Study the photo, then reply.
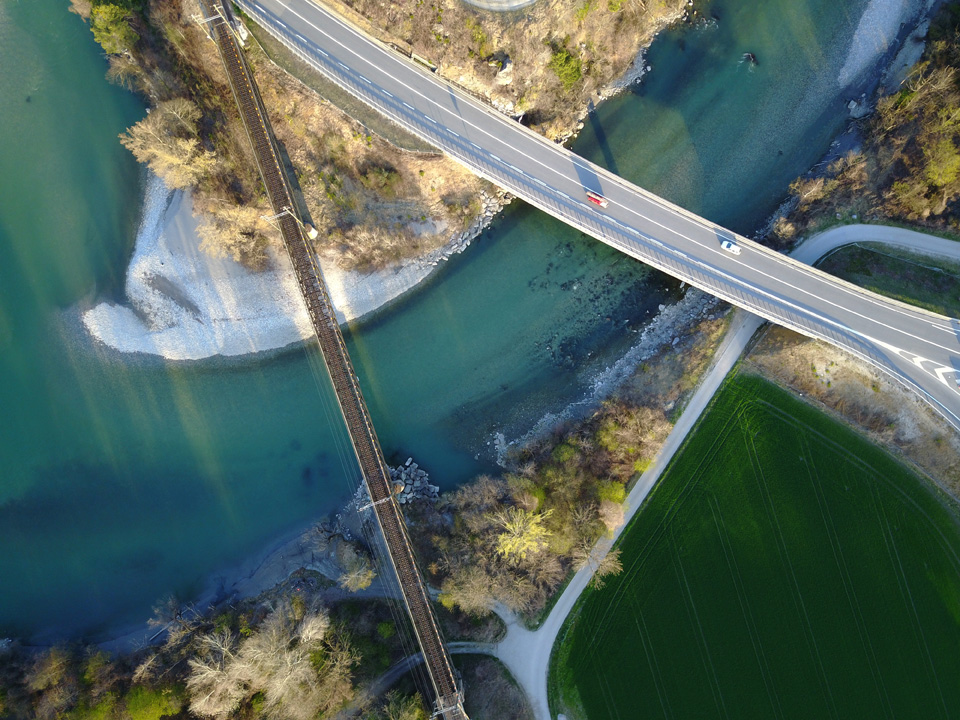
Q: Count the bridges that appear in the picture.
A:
2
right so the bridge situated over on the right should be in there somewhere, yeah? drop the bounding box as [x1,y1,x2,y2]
[472,104,806,335]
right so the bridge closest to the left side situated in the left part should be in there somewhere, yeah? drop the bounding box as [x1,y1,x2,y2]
[204,10,465,707]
